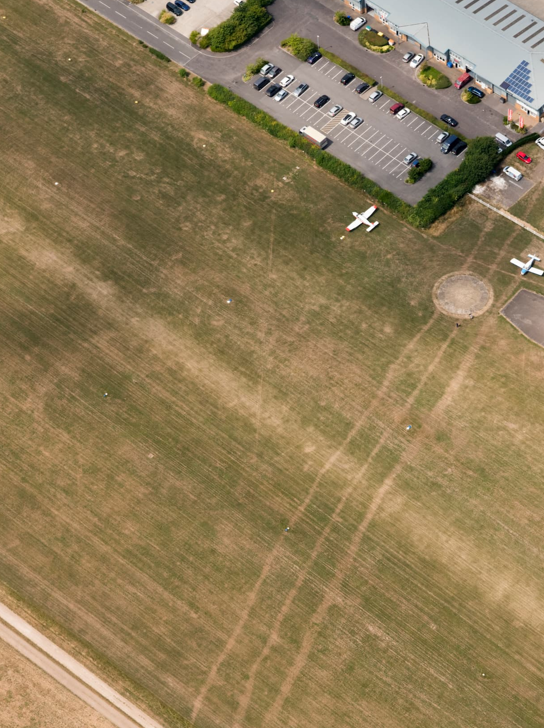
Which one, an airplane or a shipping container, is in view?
airplane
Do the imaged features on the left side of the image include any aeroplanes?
No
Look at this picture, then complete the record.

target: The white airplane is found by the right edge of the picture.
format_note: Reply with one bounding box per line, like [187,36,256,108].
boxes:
[508,252,544,277]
